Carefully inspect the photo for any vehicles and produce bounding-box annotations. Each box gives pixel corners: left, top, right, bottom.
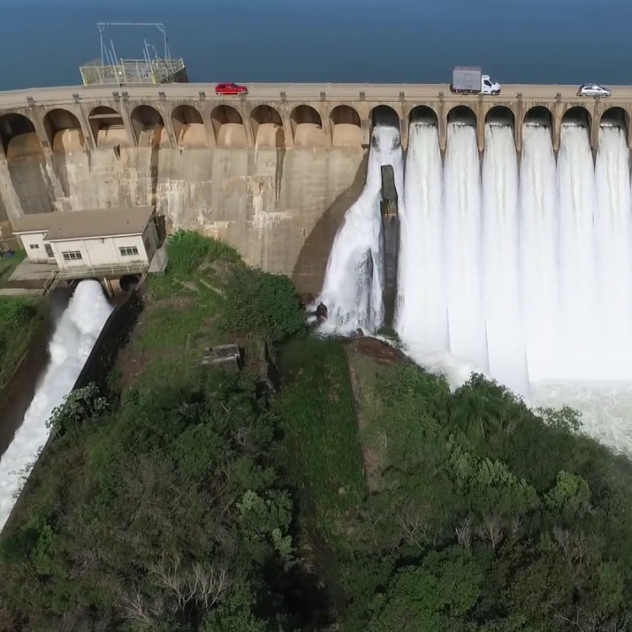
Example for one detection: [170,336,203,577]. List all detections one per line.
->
[215,80,251,95]
[575,82,610,98]
[452,67,502,97]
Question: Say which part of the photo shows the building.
left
